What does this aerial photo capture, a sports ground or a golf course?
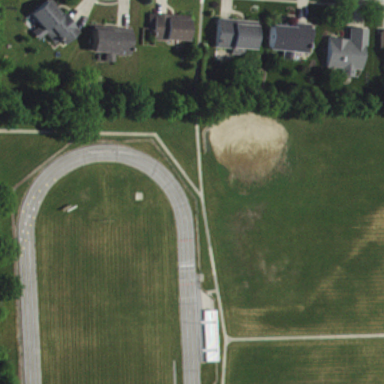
sports ground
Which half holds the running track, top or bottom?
bottom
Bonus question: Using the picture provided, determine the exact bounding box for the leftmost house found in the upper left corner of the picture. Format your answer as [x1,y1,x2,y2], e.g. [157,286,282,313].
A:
[32,0,86,44]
